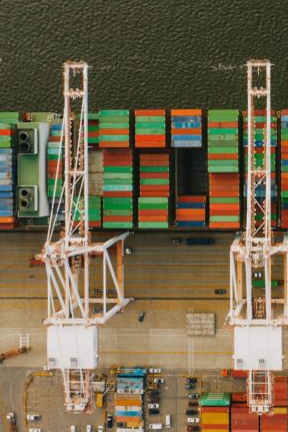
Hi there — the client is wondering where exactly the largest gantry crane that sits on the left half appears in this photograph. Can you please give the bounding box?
[34,61,139,415]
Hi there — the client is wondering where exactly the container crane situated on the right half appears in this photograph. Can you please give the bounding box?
[228,61,288,415]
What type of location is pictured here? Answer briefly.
port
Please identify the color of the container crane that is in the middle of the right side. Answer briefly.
white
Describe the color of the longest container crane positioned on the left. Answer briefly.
white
